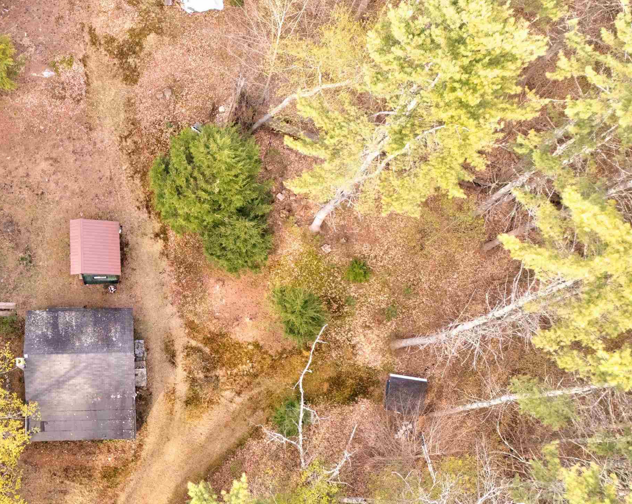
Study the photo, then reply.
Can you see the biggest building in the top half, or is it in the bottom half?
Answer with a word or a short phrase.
bottom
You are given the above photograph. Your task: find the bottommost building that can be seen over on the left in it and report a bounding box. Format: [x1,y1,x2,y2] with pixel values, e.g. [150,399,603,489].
[10,306,136,442]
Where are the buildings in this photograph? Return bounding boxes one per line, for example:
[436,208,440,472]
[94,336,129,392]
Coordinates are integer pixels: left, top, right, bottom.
[10,306,136,442]
[70,217,126,282]
[381,372,428,415]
